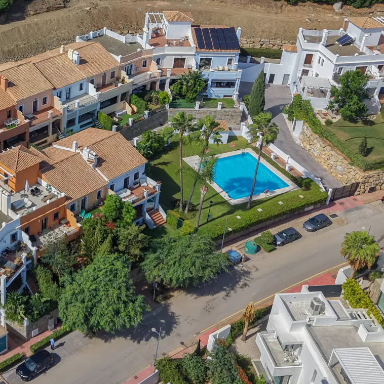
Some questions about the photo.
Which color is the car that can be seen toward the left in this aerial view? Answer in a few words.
black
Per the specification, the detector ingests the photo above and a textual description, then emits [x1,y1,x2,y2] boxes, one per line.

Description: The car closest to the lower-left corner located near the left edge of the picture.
[14,345,54,382]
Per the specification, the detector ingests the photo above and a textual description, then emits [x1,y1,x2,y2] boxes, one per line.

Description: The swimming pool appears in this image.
[184,148,300,208]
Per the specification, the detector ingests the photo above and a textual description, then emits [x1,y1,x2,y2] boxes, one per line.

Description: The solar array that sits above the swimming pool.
[195,27,239,49]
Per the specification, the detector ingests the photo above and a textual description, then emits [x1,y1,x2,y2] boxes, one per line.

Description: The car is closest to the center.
[276,224,303,245]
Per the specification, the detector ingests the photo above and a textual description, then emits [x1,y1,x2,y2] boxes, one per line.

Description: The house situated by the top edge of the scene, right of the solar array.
[292,13,384,110]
